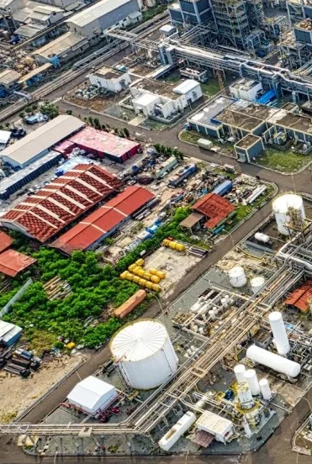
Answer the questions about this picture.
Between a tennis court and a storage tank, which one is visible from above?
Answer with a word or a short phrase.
storage tank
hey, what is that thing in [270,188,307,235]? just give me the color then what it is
white storage tank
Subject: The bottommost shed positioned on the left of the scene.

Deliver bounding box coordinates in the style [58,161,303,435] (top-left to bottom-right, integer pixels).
[66,376,121,419]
